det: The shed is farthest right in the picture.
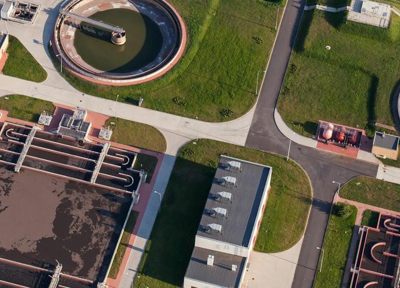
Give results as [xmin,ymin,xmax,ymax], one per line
[371,132,399,159]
